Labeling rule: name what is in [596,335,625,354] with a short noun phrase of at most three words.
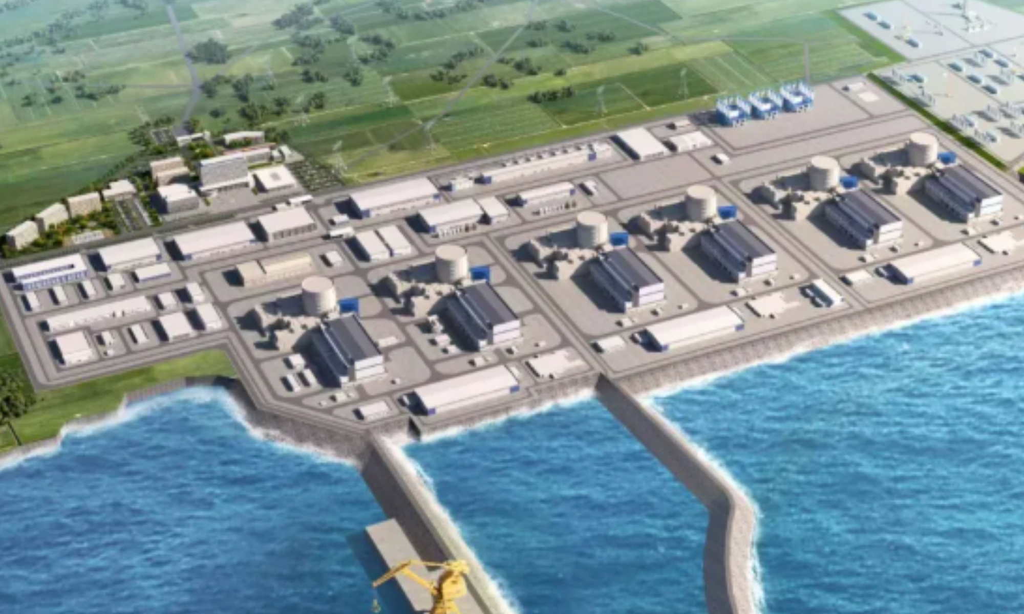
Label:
shed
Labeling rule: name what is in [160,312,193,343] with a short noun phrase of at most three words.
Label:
building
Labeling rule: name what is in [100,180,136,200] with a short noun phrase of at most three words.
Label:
house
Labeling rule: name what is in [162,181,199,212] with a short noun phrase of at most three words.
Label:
building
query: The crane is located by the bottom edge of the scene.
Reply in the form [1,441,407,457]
[372,558,469,614]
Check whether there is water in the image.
Yes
